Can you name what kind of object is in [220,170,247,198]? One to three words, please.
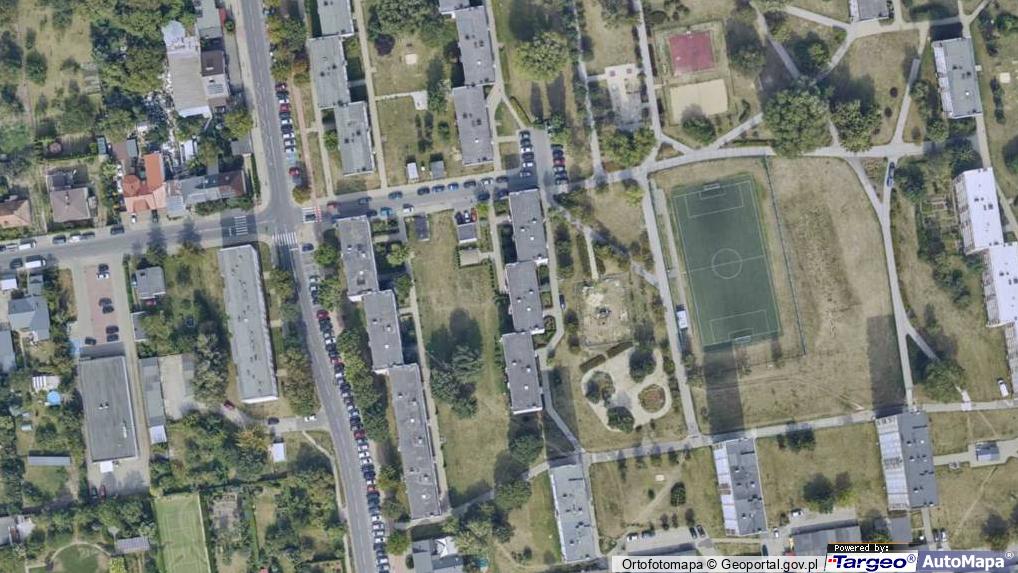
house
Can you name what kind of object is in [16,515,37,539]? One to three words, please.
shed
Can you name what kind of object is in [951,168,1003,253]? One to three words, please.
building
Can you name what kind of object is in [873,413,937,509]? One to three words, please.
building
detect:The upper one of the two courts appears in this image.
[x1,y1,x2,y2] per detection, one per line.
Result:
[669,31,716,74]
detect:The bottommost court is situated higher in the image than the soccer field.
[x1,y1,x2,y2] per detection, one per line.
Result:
[671,80,728,118]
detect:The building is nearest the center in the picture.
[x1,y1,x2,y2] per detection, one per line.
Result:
[505,261,545,333]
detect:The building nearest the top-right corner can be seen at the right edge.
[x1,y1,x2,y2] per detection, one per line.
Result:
[933,38,982,124]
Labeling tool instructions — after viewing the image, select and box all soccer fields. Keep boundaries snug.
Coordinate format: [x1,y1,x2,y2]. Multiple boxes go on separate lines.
[672,173,781,352]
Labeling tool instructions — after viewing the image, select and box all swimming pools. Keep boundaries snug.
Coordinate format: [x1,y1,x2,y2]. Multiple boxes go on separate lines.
[47,391,61,405]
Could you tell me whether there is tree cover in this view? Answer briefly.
Yes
